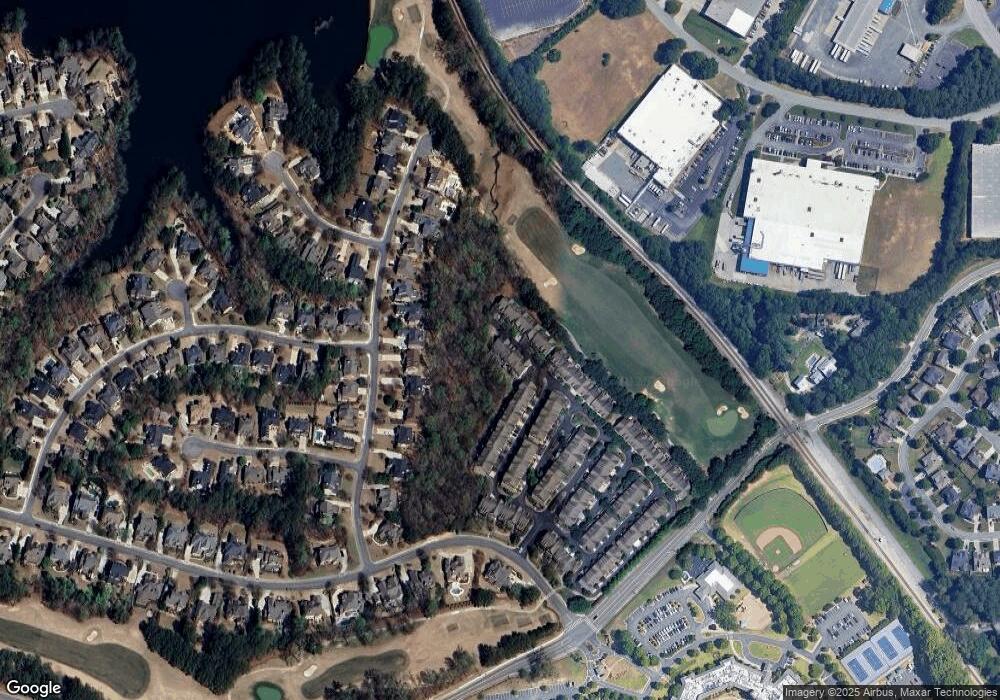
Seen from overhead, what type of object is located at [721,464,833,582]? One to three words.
baseball field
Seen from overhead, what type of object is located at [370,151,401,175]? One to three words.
house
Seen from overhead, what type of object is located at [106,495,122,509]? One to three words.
swimming pool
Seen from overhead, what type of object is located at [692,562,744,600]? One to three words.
building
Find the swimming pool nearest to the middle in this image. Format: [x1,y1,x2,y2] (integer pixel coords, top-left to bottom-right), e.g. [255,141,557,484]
[313,428,326,444]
